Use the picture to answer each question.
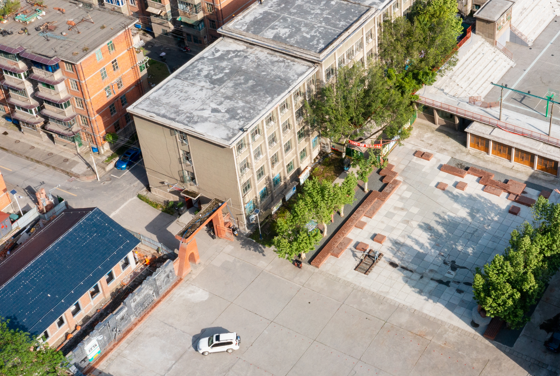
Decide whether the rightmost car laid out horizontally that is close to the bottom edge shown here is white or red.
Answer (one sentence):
The color of the rightmost car laid out horizontally that is close to the bottom edge is white.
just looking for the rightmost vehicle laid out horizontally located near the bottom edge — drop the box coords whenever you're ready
[197,330,242,357]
